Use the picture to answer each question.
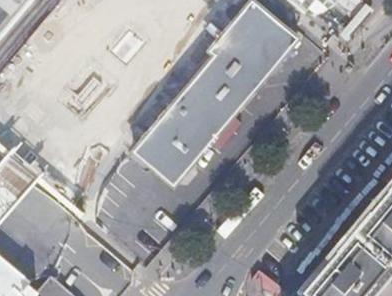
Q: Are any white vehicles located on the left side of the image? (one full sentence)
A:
Yes, looking on the left side of the image, one can make out a white vehicle.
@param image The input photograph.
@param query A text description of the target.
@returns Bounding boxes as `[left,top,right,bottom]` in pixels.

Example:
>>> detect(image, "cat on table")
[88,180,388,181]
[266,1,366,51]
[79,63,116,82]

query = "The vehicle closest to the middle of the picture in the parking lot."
[197,148,215,168]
